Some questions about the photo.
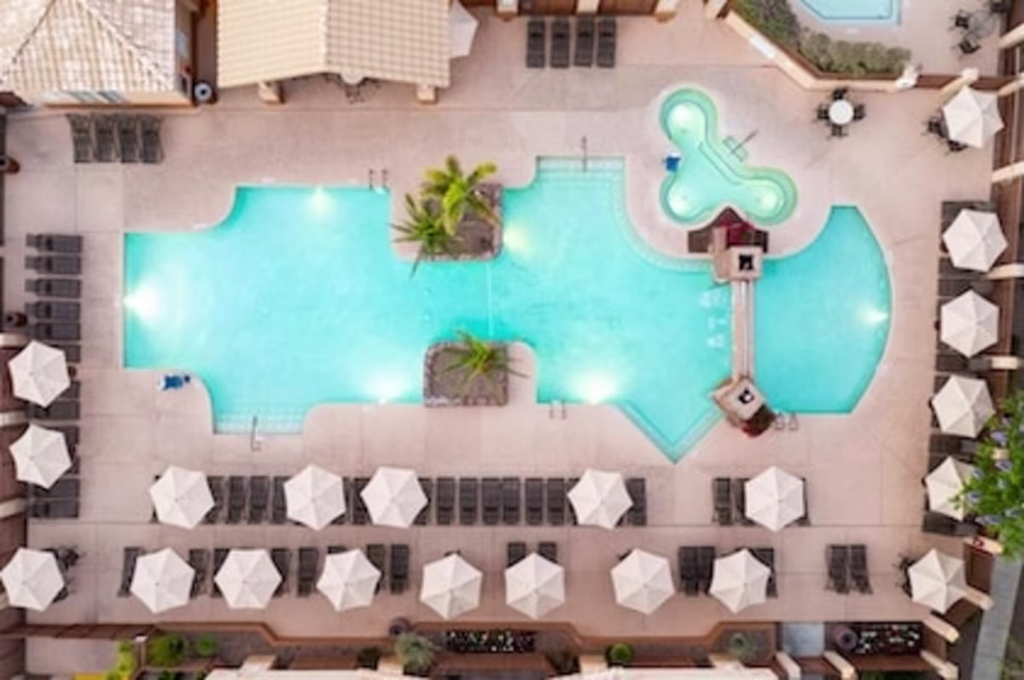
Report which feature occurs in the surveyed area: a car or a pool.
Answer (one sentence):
Of the two, only a pool appears.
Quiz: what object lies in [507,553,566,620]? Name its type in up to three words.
umbrella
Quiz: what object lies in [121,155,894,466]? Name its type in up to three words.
swimming pool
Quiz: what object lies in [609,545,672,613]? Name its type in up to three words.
umbrella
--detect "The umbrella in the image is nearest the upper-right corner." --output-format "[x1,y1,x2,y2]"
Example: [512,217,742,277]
[931,84,1002,149]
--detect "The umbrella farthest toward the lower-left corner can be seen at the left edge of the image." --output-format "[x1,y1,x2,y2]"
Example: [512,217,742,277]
[1,544,75,609]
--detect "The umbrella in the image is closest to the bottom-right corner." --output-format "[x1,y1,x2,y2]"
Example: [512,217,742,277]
[898,545,967,613]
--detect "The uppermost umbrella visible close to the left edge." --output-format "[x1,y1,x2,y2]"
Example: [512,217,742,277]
[9,339,82,406]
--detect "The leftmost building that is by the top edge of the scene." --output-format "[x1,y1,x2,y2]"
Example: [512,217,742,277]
[0,0,194,105]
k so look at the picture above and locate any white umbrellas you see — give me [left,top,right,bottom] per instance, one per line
[285,461,347,529]
[1,544,75,609]
[422,551,483,620]
[149,467,216,531]
[9,339,82,406]
[609,545,672,613]
[215,548,283,607]
[10,426,84,490]
[362,466,429,529]
[746,462,804,530]
[131,544,196,611]
[507,553,566,620]
[932,208,1005,271]
[928,290,998,358]
[931,84,1002,149]
[921,375,992,438]
[707,546,771,613]
[317,547,382,611]
[565,469,632,532]
[911,452,979,520]
[898,545,967,613]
